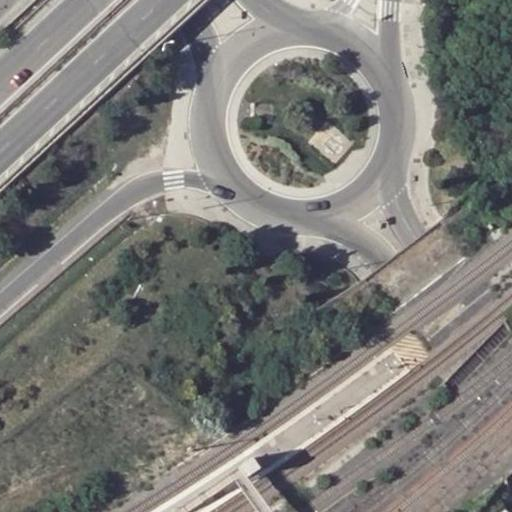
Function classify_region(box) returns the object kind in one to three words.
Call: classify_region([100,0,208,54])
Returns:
overpass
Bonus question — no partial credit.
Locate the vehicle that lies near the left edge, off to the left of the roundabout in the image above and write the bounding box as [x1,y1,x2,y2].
[11,66,32,86]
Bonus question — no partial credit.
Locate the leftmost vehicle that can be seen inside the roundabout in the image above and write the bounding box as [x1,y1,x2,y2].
[211,186,234,199]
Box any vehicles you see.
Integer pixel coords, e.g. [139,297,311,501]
[11,66,32,86]
[306,200,328,211]
[211,186,234,199]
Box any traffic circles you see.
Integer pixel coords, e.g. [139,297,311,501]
[190,4,415,240]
